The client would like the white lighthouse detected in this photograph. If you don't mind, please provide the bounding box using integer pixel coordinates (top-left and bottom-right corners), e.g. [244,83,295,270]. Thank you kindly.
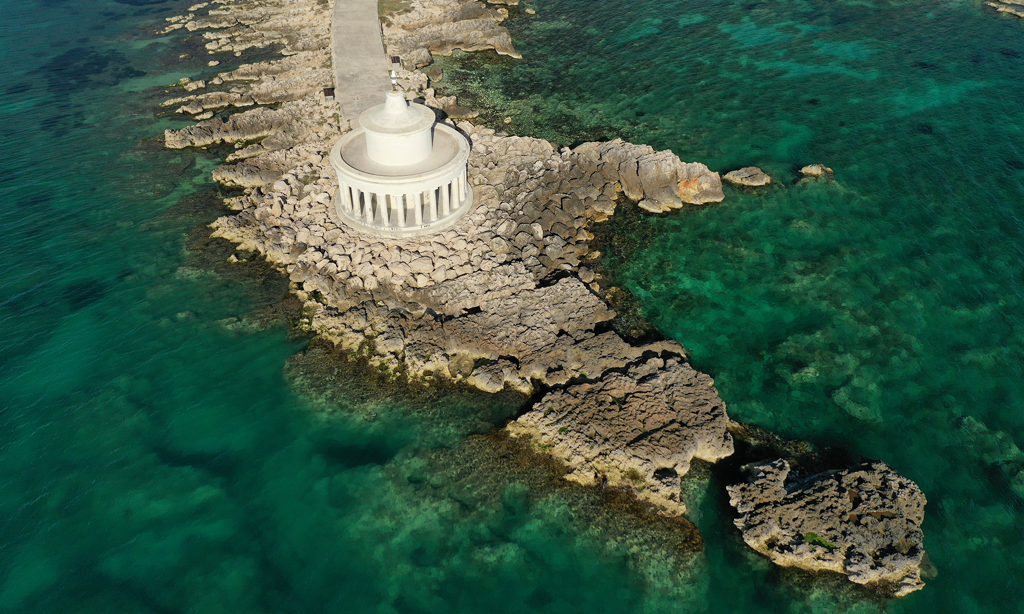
[330,71,473,238]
